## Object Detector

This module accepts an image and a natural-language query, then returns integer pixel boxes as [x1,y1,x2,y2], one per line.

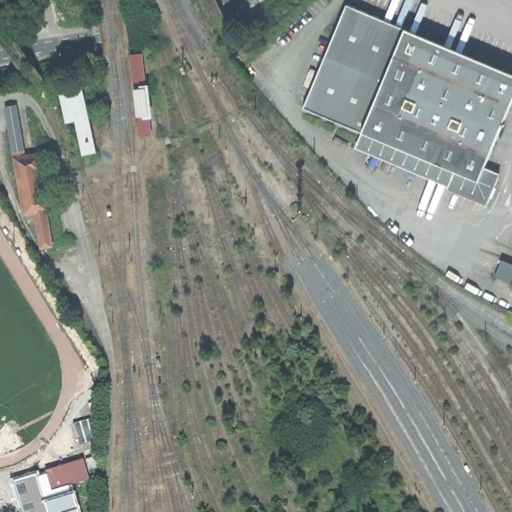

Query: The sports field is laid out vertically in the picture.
[0,228,86,468]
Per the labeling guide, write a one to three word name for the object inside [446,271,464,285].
vehicle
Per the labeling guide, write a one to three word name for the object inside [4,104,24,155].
building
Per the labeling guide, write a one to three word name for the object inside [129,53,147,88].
shed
